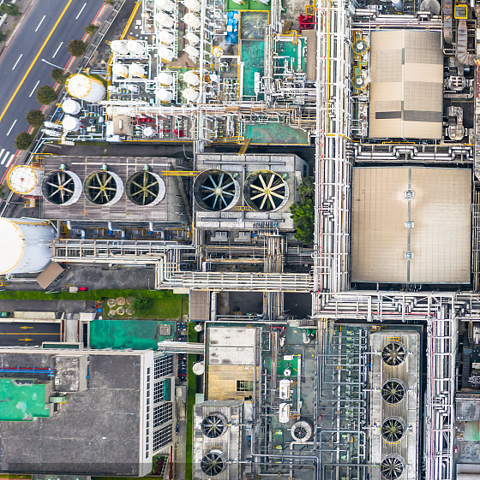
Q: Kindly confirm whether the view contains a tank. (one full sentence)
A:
Yes, there's a tank here.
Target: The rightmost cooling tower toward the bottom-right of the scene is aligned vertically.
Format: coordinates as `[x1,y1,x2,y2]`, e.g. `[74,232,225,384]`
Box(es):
[364,328,423,480]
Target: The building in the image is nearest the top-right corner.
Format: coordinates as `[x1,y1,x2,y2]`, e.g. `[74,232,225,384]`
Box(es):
[370,28,445,142]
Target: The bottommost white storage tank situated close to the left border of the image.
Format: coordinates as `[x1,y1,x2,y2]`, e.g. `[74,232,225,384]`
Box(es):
[0,217,53,274]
